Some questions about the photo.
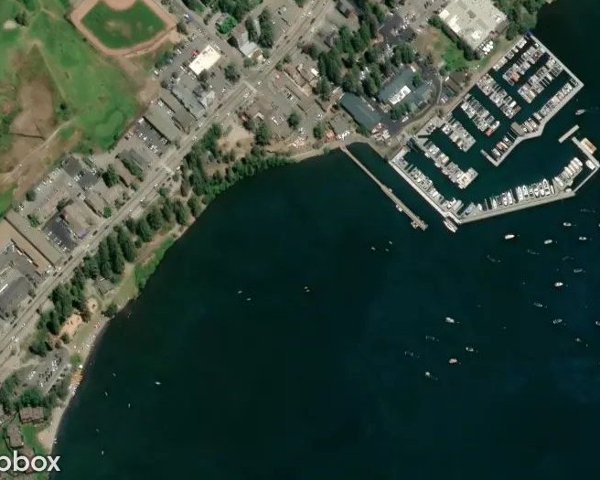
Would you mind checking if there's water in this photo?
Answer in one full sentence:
Yes, the picture does contain water.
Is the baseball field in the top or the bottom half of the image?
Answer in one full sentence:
The top half of the photo is where the baseball field is.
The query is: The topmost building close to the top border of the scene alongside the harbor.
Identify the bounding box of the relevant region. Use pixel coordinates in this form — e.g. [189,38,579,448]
[439,0,510,52]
